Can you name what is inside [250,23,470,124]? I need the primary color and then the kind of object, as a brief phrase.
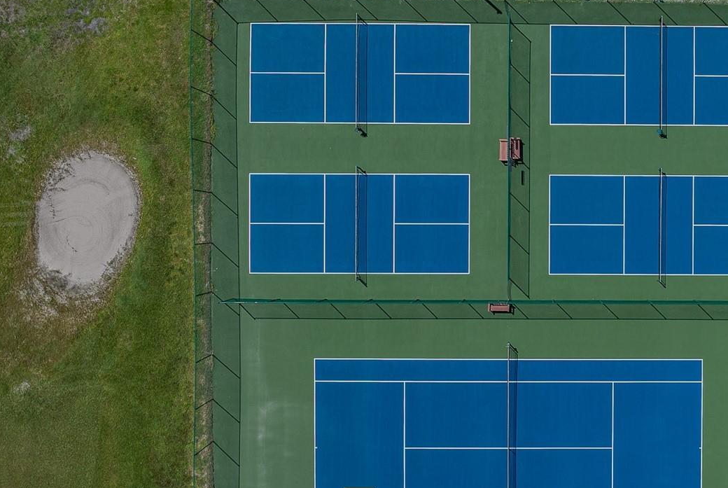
blue sports court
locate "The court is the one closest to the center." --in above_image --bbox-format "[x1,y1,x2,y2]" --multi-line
[250,173,470,274]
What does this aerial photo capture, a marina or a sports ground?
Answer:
sports ground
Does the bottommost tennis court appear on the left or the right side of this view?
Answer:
right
